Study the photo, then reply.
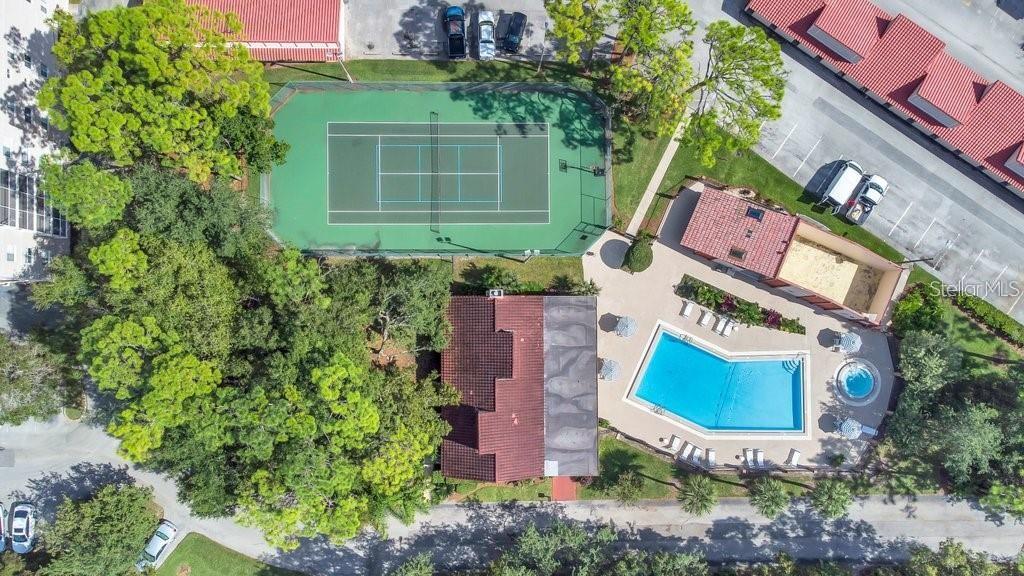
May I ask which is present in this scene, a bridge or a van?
van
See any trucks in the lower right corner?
No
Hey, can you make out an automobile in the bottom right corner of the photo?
No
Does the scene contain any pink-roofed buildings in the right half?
Yes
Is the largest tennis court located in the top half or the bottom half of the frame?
top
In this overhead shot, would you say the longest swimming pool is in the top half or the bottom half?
bottom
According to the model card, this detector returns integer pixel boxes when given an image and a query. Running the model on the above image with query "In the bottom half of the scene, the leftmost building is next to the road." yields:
[441,288,599,484]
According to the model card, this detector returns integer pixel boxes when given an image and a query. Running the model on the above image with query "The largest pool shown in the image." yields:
[624,320,812,439]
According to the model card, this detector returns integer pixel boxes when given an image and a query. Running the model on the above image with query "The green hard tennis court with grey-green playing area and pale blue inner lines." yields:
[271,92,605,253]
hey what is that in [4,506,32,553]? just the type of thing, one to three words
car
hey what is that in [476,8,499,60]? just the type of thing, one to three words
truck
